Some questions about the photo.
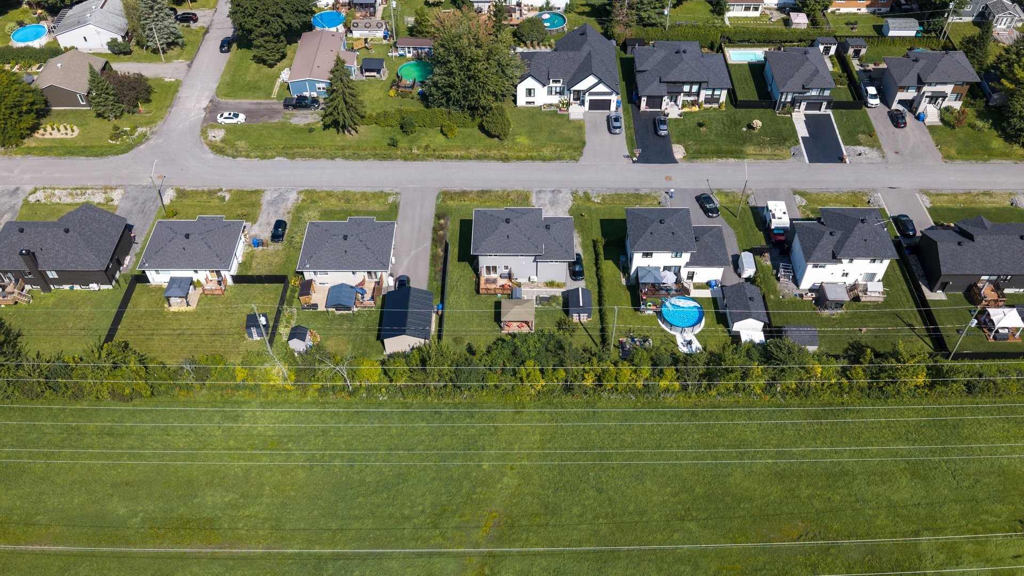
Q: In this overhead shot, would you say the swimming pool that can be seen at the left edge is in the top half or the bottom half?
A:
top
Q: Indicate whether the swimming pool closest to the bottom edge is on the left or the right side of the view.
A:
right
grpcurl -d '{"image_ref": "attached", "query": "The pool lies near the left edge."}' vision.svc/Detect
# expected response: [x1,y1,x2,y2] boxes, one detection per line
[9,24,52,49]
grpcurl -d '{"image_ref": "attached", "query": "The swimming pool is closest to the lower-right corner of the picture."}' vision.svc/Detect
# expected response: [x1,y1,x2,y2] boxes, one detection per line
[660,297,705,339]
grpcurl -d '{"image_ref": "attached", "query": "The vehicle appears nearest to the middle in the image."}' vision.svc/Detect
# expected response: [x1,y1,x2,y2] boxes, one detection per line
[570,254,586,281]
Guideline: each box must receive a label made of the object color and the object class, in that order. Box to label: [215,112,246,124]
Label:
white vehicle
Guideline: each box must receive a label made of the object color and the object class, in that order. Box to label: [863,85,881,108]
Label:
white vehicle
